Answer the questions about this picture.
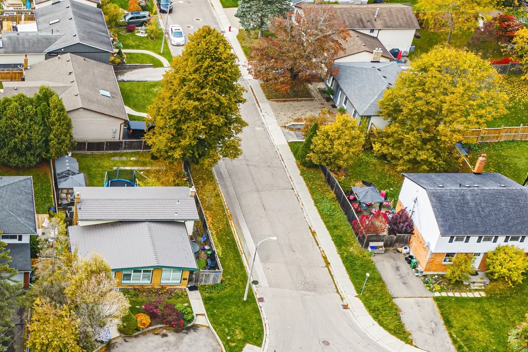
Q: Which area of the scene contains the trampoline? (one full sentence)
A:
You can find the trampoline in the left area of the picture.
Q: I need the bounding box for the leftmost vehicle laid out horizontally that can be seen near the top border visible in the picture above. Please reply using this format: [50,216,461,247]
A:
[121,9,155,24]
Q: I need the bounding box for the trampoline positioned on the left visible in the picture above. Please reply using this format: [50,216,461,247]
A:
[105,164,141,187]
